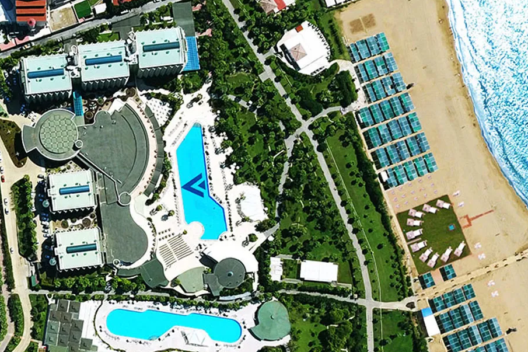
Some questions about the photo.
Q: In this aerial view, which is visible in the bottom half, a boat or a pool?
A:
pool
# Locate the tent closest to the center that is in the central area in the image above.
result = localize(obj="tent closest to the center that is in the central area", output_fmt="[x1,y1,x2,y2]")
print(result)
[238,183,265,221]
